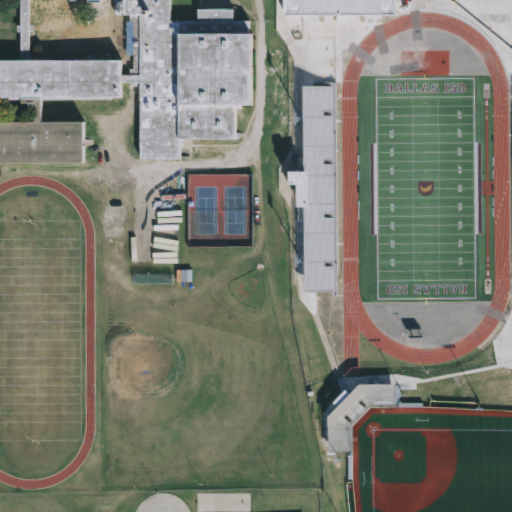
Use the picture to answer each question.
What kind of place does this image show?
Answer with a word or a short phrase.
sports ground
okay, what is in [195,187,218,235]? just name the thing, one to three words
tennis court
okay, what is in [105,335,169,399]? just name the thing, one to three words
baseball field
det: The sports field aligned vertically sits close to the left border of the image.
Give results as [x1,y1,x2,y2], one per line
[0,185,86,480]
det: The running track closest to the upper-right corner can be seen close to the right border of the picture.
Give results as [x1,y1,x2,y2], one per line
[342,12,510,371]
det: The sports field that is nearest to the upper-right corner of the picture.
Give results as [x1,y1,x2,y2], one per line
[358,76,494,302]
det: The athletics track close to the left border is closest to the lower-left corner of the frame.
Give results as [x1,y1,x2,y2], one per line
[0,176,95,489]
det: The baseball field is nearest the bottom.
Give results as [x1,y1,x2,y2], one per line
[353,408,512,512]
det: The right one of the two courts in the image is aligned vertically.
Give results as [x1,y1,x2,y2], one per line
[224,187,247,235]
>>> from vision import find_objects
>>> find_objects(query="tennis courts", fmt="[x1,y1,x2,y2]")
[195,187,218,235]
[224,187,247,235]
